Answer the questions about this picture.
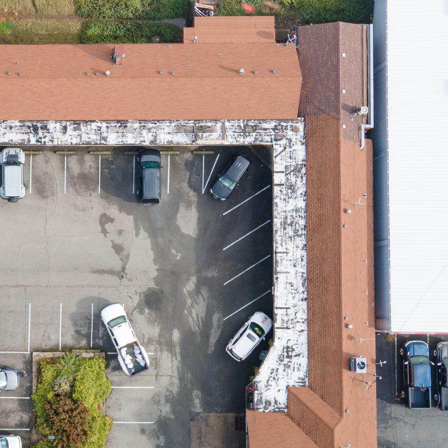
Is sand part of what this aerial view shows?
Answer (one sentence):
No, no sand is visible.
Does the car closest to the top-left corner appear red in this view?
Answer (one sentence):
No, the color of the car closest to the top-left corner is white.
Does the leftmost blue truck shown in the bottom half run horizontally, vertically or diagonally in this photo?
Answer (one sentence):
In this picture, the leftmost blue truck shown in the bottom half is oriented vertically.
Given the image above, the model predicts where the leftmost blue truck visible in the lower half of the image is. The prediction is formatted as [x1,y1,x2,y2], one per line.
[399,339,433,411]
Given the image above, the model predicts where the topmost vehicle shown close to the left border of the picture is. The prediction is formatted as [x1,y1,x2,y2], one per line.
[0,149,26,204]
